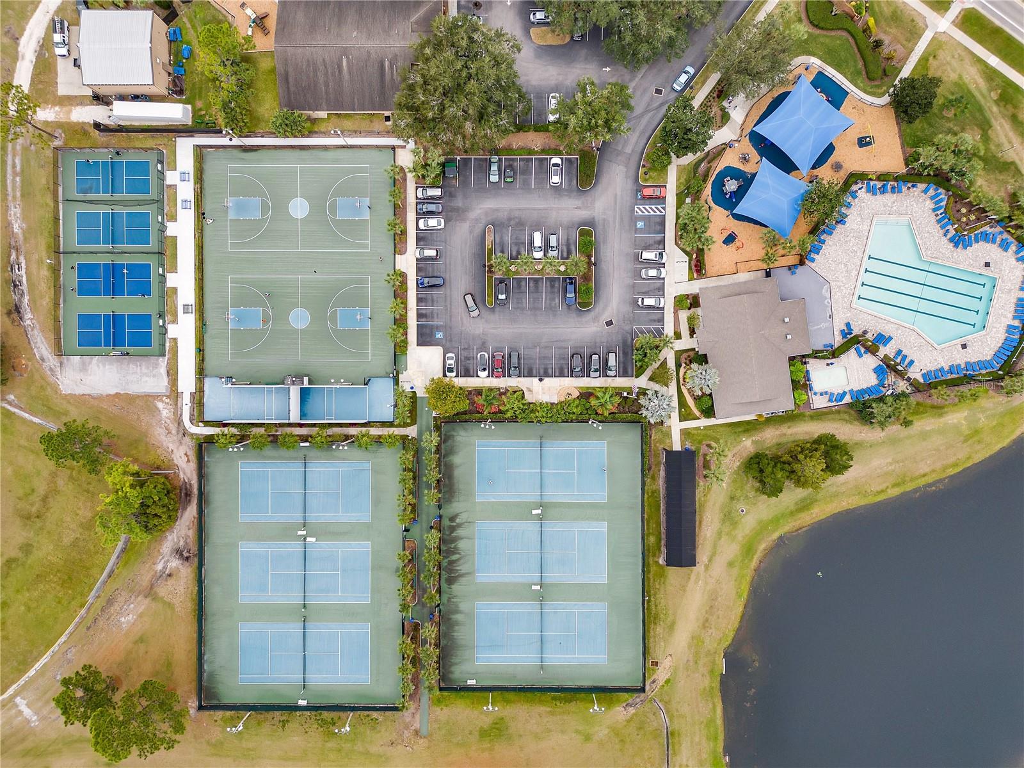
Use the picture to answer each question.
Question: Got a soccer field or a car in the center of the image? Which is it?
car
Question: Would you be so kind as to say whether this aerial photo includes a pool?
Yes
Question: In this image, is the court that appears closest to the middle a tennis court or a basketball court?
tennis court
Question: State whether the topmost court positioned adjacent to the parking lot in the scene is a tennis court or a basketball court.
basketball court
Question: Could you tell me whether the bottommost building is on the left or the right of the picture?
right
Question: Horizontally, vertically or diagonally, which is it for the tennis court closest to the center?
horizontally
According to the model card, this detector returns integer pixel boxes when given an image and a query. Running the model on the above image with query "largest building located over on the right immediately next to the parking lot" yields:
[693,276,812,418]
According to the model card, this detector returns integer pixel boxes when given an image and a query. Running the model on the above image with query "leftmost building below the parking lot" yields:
[666,450,698,567]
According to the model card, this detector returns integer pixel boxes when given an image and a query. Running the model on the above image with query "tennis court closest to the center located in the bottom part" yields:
[476,440,606,501]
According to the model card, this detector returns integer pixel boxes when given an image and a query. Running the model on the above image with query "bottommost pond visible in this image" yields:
[720,436,1024,768]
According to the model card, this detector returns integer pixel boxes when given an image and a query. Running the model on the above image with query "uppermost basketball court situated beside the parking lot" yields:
[228,165,369,250]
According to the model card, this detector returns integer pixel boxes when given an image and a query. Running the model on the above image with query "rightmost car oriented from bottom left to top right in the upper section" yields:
[674,63,695,90]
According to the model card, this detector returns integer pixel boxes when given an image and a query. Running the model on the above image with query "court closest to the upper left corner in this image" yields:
[76,160,150,195]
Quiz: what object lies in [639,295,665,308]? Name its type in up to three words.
vehicle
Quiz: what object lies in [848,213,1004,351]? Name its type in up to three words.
swimming pool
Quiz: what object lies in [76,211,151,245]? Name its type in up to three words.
sports court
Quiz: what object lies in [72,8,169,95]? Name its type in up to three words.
building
